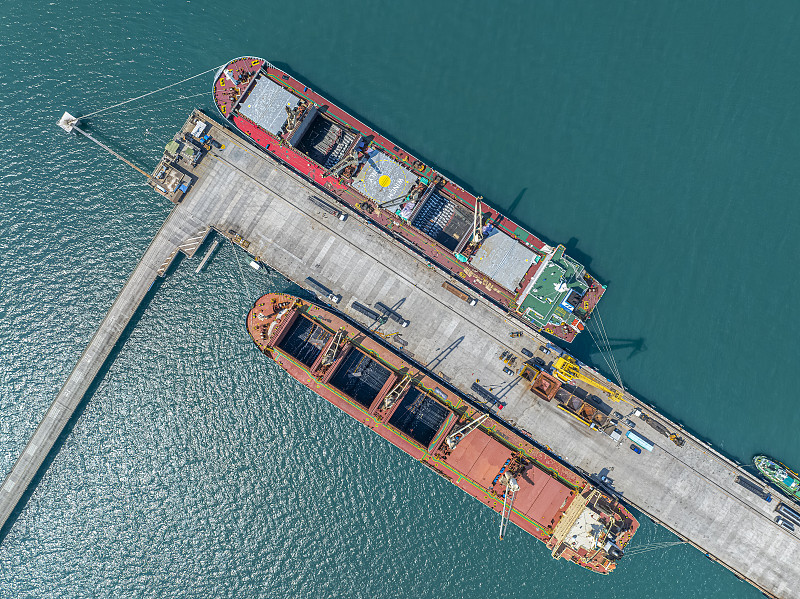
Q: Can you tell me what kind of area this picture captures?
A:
port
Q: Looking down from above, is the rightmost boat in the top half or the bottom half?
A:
bottom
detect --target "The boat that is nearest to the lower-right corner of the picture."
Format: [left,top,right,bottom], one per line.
[752,455,800,505]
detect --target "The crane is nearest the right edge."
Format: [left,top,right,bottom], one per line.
[542,347,626,403]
